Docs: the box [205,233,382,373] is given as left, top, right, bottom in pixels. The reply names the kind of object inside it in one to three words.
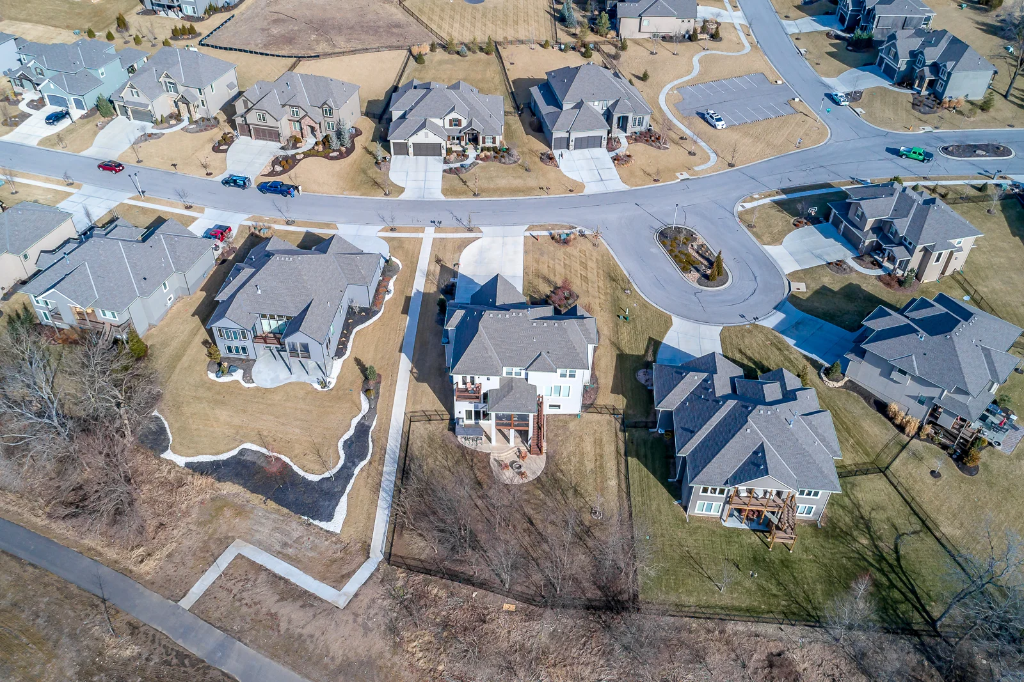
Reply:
house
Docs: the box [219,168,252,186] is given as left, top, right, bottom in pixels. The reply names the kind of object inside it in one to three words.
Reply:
vehicle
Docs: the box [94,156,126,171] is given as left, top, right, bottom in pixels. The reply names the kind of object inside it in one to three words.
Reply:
car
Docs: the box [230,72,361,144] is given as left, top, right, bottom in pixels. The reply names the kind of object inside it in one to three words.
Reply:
house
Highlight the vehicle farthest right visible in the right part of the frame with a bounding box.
[899,145,936,160]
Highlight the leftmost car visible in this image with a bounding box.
[43,105,71,122]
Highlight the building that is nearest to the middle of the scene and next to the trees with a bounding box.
[440,272,599,453]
